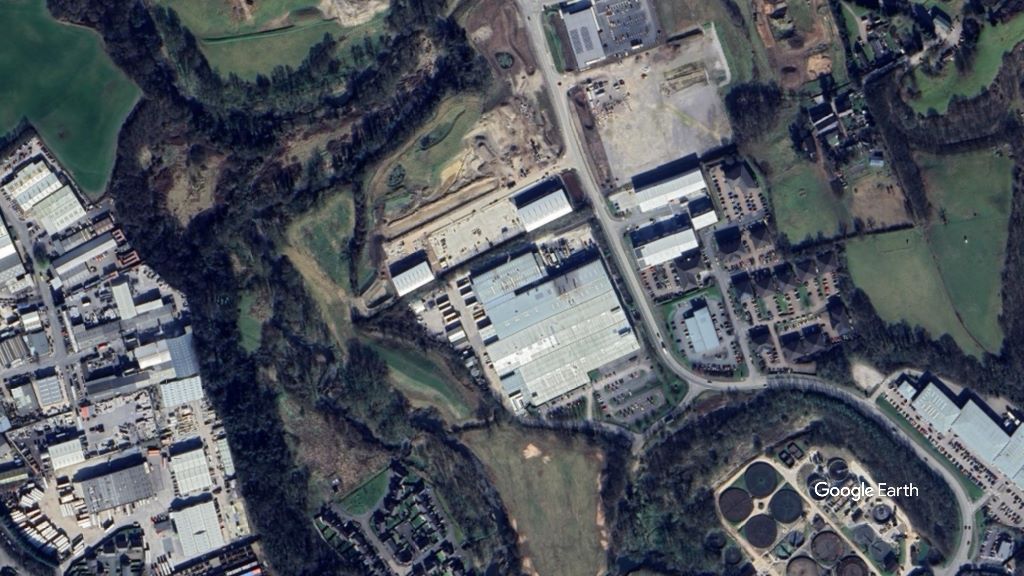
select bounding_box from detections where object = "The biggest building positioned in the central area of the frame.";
[473,252,639,417]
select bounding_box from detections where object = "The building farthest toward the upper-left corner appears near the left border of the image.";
[5,160,62,212]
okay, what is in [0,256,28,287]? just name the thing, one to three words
building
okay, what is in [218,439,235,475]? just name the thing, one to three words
shed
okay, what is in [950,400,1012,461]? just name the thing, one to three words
building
